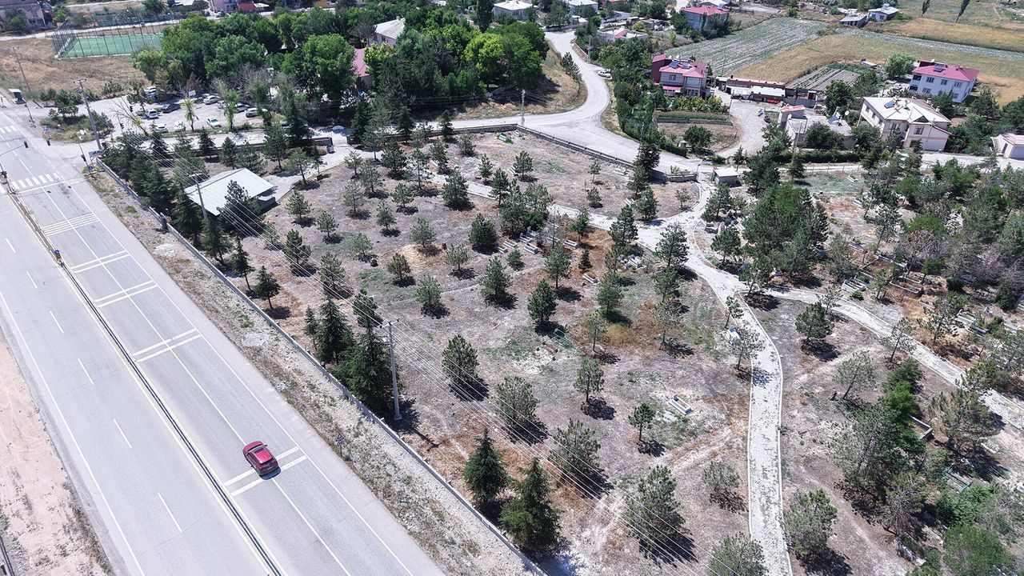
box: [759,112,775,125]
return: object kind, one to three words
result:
vehicle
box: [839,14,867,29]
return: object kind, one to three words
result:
shed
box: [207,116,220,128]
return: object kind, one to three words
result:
vehicle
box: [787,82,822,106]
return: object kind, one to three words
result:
building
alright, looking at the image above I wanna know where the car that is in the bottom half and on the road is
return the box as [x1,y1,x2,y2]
[242,443,280,483]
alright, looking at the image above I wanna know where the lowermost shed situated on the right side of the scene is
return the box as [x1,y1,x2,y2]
[714,163,741,186]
